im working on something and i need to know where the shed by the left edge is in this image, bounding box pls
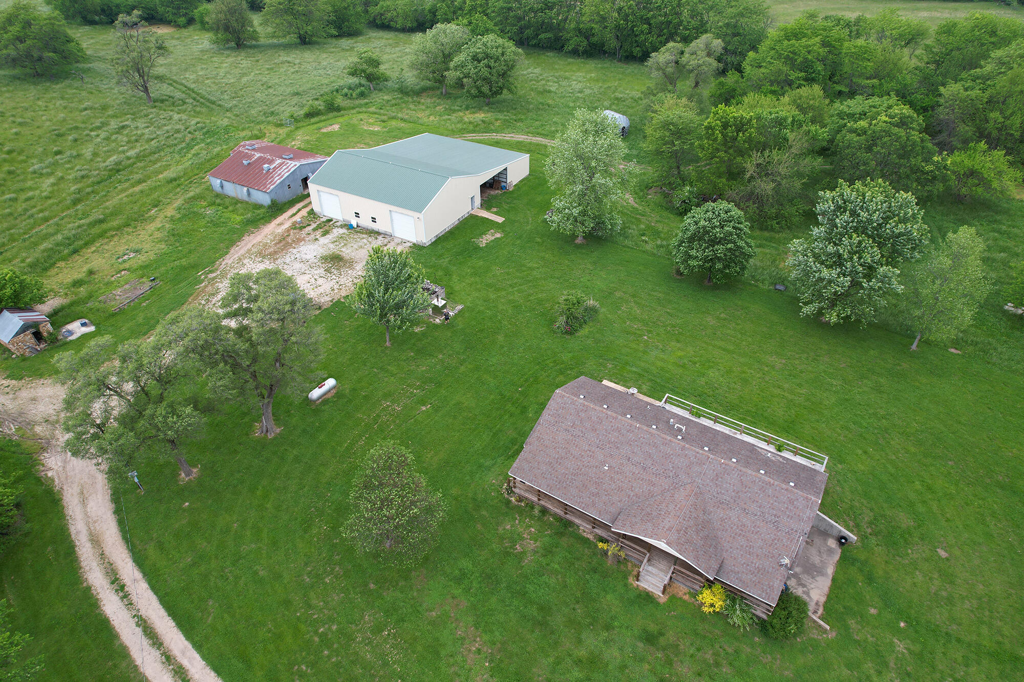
[0,309,58,359]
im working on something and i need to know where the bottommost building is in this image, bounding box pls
[508,376,832,625]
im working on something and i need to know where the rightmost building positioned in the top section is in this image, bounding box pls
[307,132,531,246]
